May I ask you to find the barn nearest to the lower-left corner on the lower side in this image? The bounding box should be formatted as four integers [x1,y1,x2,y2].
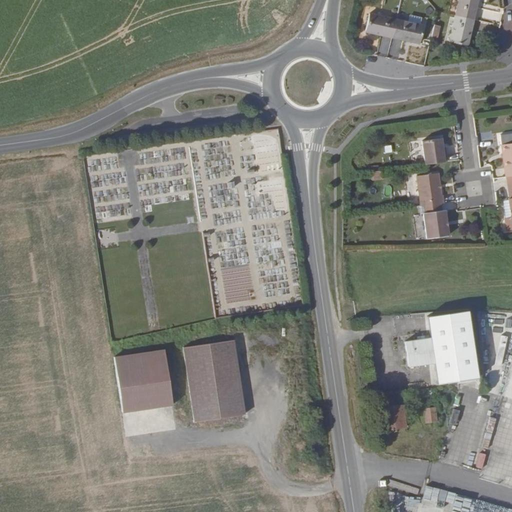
[114,350,173,412]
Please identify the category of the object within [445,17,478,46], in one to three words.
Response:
house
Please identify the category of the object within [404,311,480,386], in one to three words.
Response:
building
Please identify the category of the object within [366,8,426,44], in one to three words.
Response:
house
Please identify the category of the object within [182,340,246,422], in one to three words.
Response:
barn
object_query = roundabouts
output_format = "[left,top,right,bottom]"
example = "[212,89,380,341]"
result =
[262,37,354,129]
